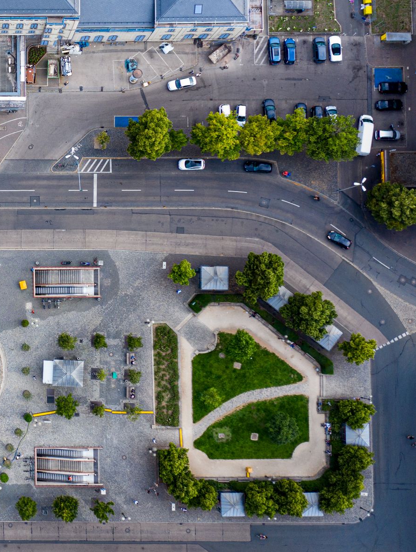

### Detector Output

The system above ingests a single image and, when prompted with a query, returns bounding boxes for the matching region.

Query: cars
[219,104,230,118]
[325,105,339,125]
[268,34,283,63]
[244,160,272,173]
[263,99,277,124]
[294,103,308,120]
[235,105,247,126]
[167,76,197,91]
[375,124,401,142]
[283,34,298,64]
[312,35,327,63]
[379,81,408,95]
[326,230,353,251]
[328,34,342,62]
[375,98,403,111]
[179,158,206,171]
[311,105,323,126]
